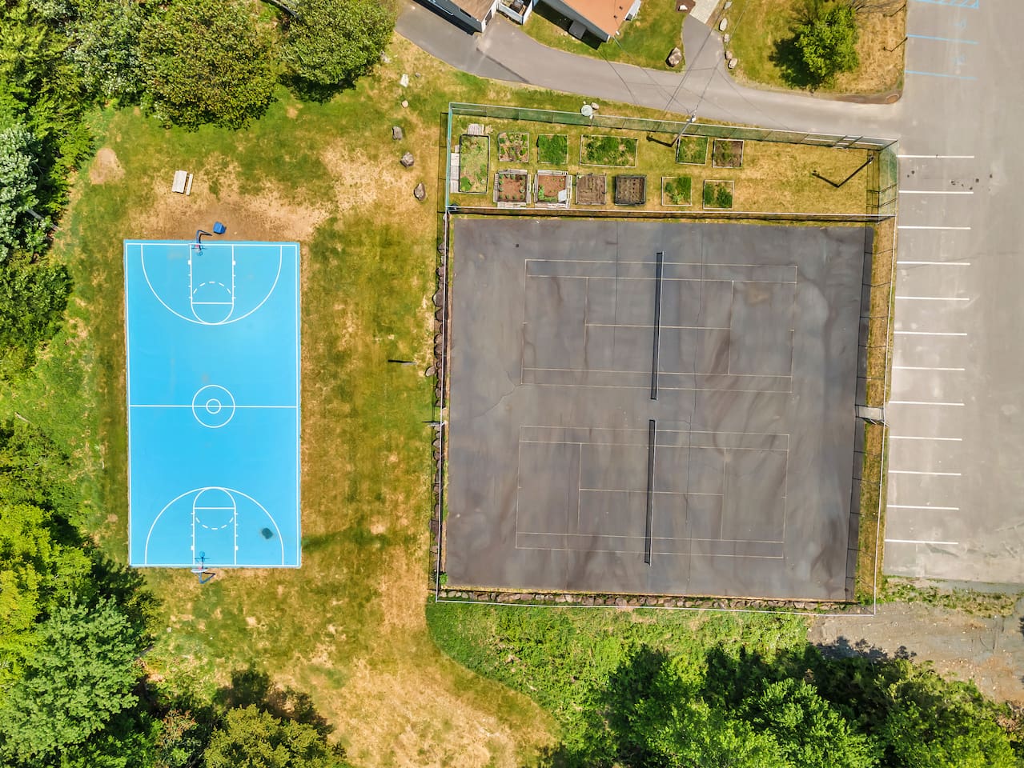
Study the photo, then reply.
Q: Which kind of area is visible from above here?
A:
sports ground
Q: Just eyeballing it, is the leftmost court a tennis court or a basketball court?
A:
basketball court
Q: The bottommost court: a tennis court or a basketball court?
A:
tennis court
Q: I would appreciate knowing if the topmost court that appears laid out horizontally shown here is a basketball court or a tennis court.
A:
tennis court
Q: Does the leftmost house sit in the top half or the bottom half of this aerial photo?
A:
top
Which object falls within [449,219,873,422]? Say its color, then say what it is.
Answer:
gray tennis court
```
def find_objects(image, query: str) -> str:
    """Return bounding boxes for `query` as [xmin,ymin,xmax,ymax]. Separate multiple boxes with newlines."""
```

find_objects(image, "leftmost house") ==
[423,0,498,33]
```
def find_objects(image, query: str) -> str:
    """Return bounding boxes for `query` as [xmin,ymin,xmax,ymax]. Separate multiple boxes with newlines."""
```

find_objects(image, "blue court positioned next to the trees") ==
[124,240,302,568]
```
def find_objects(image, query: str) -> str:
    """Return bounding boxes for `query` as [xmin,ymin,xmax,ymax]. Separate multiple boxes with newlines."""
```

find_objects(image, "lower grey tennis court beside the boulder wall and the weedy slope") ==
[445,409,864,601]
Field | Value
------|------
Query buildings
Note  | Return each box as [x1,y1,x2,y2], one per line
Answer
[423,0,498,33]
[538,0,647,42]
